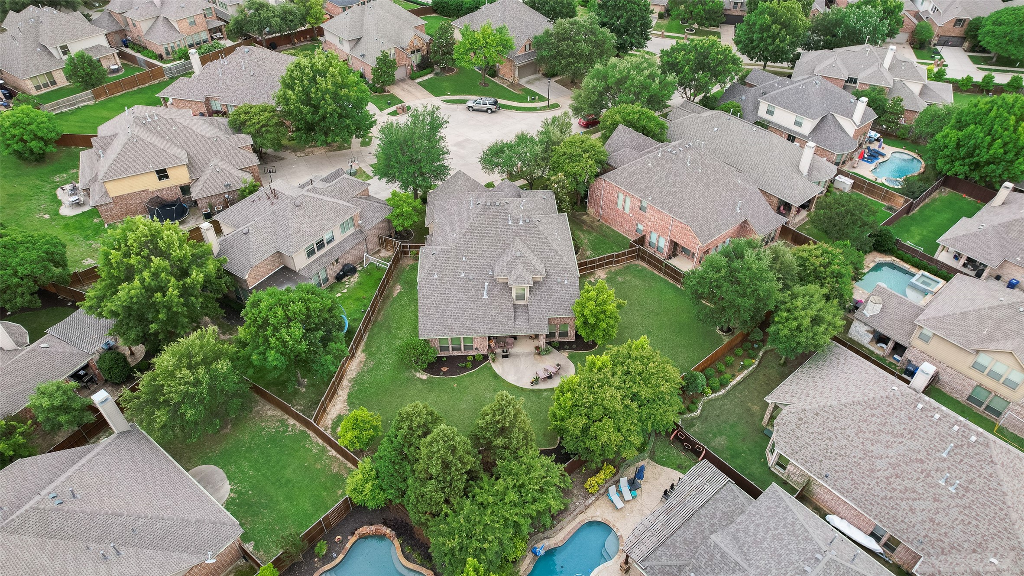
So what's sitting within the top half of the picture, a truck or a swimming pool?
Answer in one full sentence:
What appears within the top half of the picture is a swimming pool.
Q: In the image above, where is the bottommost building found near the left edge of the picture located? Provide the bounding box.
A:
[0,386,247,576]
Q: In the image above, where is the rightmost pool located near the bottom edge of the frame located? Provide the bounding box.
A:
[524,512,628,576]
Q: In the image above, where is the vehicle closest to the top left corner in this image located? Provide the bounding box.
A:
[464,94,503,113]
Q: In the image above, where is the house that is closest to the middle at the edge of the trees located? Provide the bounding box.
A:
[416,170,581,357]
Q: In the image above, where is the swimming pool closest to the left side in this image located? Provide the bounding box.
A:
[309,527,439,576]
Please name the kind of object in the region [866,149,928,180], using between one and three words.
swimming pool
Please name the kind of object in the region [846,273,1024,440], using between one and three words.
house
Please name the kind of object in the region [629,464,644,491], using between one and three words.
umbrella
